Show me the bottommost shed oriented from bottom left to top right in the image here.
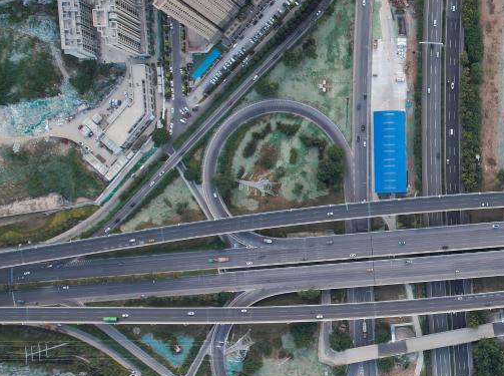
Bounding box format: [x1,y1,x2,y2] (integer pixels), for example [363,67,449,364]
[105,142,148,184]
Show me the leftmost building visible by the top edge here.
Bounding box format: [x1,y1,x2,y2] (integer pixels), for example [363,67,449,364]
[52,0,110,65]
